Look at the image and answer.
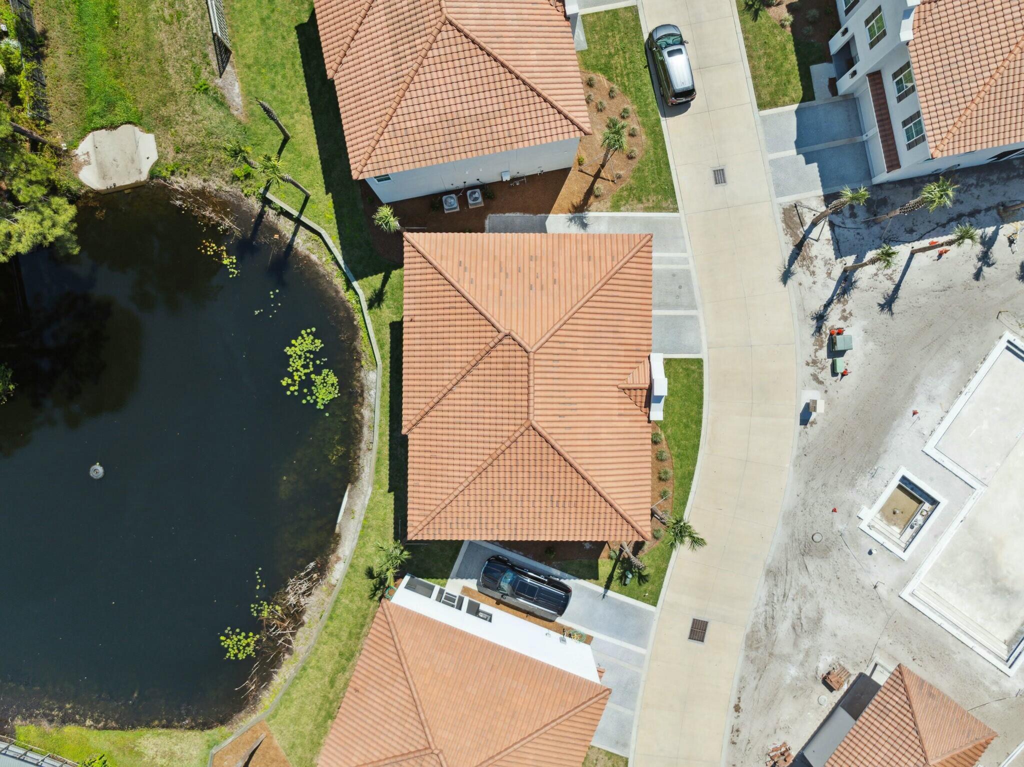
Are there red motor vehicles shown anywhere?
No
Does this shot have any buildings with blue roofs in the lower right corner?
No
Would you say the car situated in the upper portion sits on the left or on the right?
right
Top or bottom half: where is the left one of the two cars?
bottom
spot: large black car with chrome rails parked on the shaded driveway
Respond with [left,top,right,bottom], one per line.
[475,553,572,621]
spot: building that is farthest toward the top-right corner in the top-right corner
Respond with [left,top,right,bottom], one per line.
[831,0,1024,184]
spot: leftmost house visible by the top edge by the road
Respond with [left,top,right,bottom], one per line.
[310,0,594,203]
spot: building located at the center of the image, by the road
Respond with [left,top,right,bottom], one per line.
[400,230,673,543]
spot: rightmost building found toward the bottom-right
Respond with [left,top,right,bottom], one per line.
[797,655,1000,767]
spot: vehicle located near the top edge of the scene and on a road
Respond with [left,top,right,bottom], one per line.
[649,21,701,107]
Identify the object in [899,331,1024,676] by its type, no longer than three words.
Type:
swimming pool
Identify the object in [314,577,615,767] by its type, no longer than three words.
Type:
house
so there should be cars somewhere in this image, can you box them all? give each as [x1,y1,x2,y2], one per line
[475,553,572,621]
[649,21,701,107]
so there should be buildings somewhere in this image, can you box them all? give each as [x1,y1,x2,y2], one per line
[400,230,673,543]
[831,0,1024,184]
[310,0,594,203]
[0,735,81,767]
[797,655,1000,767]
[314,577,615,767]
